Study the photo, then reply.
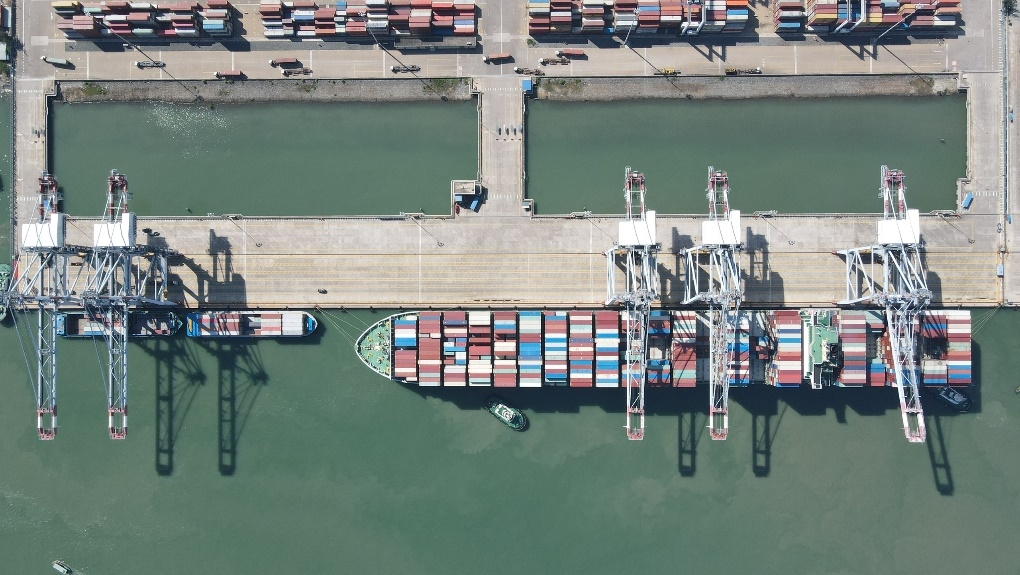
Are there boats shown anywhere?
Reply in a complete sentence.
Yes, there's a boat here.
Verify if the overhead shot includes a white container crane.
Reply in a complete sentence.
Yes, a white container crane is visible in the scene.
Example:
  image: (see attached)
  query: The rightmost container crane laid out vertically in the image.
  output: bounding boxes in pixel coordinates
[835,165,941,444]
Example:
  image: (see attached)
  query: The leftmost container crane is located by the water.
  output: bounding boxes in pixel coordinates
[0,170,111,441]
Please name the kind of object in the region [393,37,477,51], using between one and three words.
shed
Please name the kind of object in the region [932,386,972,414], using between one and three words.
boat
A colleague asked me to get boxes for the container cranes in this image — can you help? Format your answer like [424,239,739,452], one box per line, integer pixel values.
[679,0,707,39]
[835,165,941,444]
[602,166,659,440]
[676,166,746,441]
[75,169,180,441]
[0,170,111,441]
